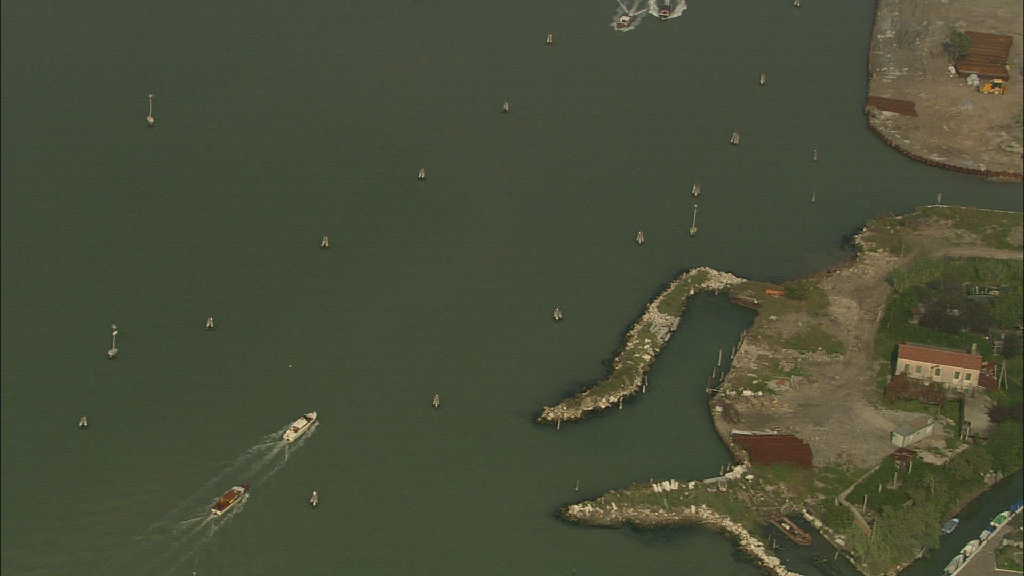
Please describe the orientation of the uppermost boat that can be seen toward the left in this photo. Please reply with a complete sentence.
The uppermost boat that can be seen toward the left runs at an angle in the image.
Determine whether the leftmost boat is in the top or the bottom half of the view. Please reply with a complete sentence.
The leftmost boat is in the bottom half of the image.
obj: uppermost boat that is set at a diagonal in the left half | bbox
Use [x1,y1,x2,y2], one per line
[281,411,317,443]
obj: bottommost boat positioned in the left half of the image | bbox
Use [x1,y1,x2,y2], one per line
[210,484,247,516]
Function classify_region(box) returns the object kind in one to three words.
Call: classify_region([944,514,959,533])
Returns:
boat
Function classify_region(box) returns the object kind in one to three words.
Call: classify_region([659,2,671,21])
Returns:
boat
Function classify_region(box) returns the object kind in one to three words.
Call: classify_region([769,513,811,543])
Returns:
ship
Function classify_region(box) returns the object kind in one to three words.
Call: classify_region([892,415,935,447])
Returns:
building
